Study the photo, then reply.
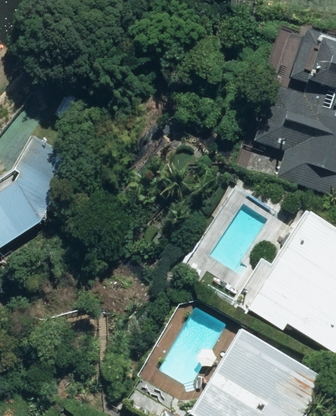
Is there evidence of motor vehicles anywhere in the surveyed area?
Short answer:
No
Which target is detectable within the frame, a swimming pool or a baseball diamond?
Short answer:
swimming pool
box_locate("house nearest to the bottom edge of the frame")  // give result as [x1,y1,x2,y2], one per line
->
[190,330,322,416]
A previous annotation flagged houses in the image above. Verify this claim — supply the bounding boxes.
[238,210,336,352]
[190,330,322,416]
[255,24,336,195]
[0,135,55,250]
